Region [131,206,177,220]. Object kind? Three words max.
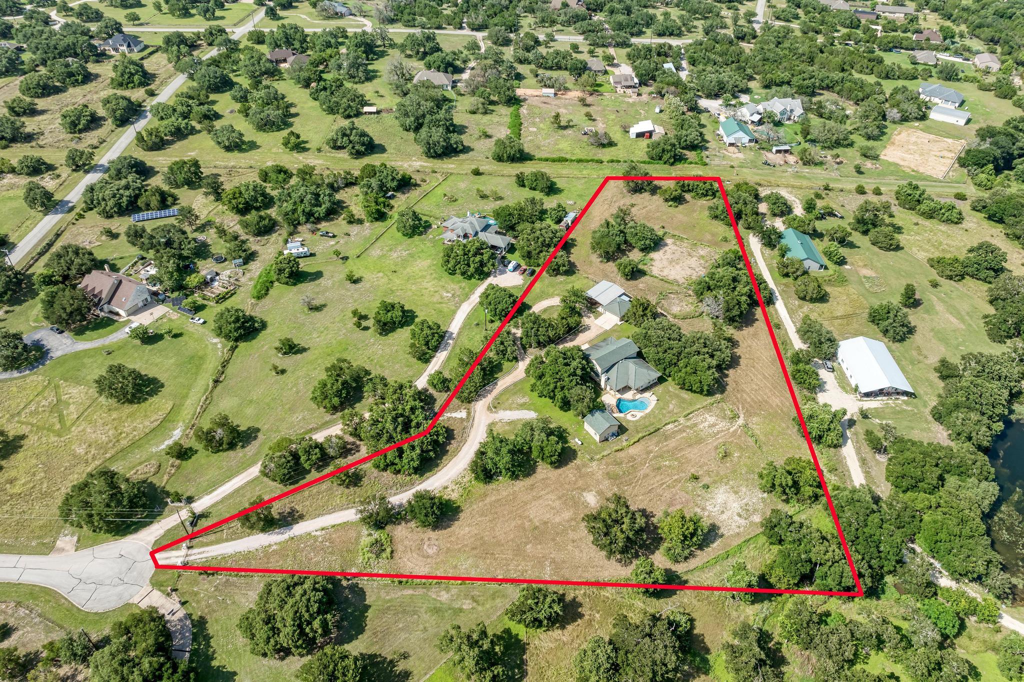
solar array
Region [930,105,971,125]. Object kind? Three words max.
shed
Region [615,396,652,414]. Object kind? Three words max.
swimming pool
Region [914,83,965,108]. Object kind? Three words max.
house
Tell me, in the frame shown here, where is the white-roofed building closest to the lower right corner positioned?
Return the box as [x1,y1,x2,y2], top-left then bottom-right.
[835,338,920,412]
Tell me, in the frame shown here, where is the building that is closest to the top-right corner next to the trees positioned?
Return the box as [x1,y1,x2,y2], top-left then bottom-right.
[974,54,1000,71]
